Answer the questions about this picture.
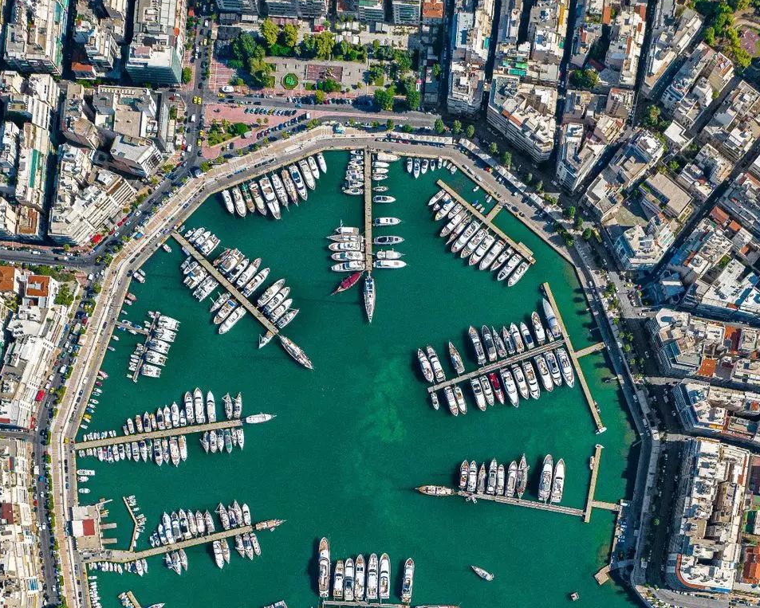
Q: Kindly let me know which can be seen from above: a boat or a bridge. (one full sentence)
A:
Looking from above, you can make out a boat.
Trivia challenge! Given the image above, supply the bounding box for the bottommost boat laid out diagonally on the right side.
[472,565,494,580]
